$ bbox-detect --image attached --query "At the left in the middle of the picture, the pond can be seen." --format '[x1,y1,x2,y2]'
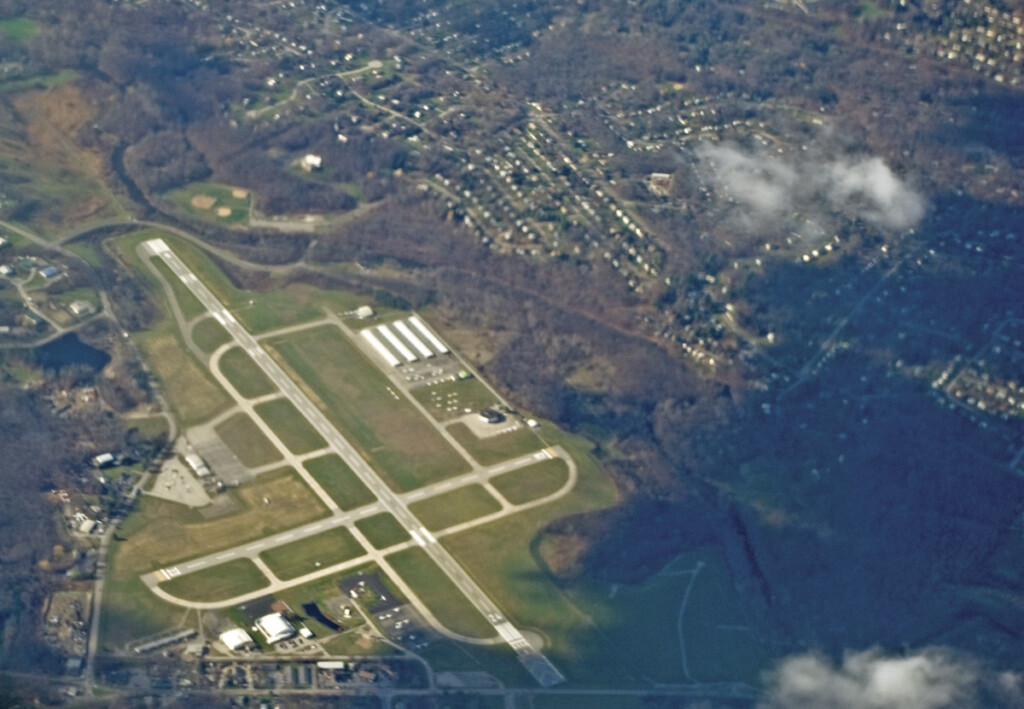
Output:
[33,332,112,376]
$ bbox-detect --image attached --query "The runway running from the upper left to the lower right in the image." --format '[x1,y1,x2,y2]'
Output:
[147,238,562,684]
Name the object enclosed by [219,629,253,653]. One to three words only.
hangar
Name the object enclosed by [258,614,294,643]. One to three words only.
hangar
